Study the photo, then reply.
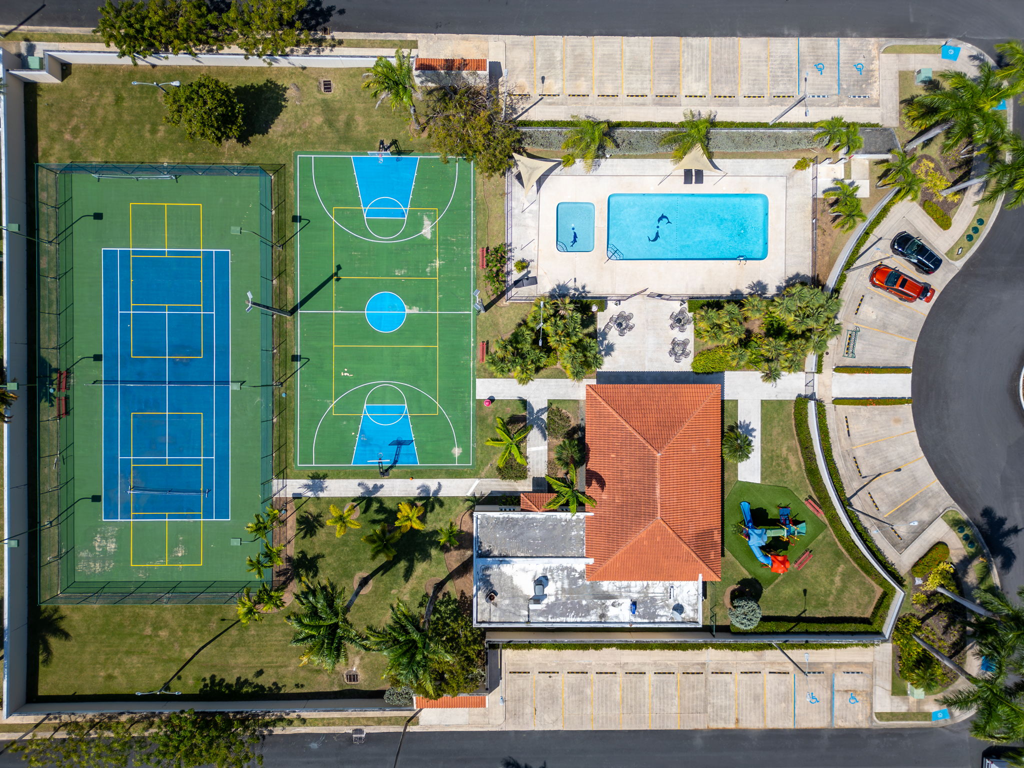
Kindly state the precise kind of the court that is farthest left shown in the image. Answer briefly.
tennis court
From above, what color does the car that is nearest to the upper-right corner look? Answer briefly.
black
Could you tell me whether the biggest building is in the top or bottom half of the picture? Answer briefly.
bottom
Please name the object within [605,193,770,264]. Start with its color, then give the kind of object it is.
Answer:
blue swimming pool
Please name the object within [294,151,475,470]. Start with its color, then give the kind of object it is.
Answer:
green basketball court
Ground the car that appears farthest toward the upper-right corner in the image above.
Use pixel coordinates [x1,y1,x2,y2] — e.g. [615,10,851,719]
[887,231,947,275]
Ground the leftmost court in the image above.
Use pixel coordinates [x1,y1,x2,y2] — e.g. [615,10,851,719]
[59,173,261,595]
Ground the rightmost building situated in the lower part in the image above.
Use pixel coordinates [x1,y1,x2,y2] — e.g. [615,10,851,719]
[473,383,723,626]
